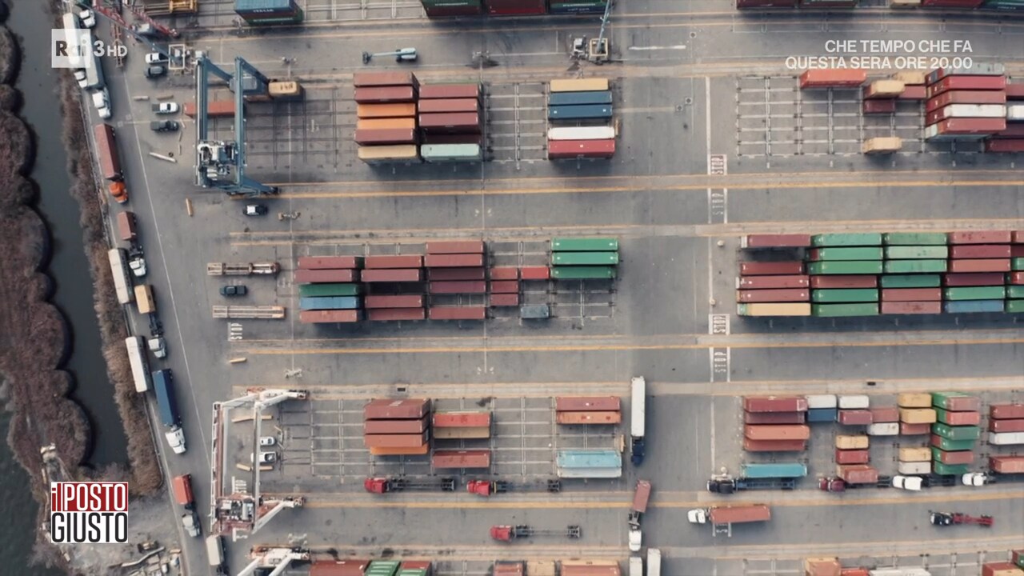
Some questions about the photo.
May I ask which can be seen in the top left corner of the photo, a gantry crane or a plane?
gantry crane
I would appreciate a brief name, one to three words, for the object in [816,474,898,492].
vehicle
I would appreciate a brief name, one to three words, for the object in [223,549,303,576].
container crane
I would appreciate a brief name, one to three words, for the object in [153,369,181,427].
shipping container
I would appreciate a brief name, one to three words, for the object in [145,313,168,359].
truck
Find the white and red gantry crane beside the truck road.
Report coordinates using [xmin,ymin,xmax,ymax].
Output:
[212,389,301,542]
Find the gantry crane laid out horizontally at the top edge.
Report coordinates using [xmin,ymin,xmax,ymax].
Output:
[77,0,186,39]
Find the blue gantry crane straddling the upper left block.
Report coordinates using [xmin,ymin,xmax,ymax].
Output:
[192,47,282,194]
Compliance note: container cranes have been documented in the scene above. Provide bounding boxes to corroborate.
[192,47,282,194]
[212,389,301,542]
[77,0,186,39]
[223,549,303,576]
